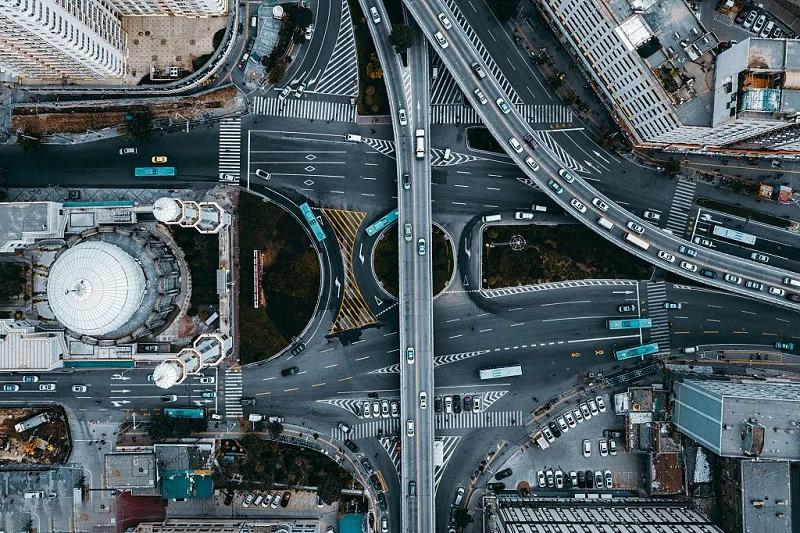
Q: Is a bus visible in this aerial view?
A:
Yes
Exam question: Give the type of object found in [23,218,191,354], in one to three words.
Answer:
building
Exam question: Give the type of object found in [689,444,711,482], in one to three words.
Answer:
shed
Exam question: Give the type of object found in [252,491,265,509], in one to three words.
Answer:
vehicle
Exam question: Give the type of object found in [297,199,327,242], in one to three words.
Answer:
bus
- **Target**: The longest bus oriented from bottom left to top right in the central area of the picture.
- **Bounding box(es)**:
[363,204,399,239]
